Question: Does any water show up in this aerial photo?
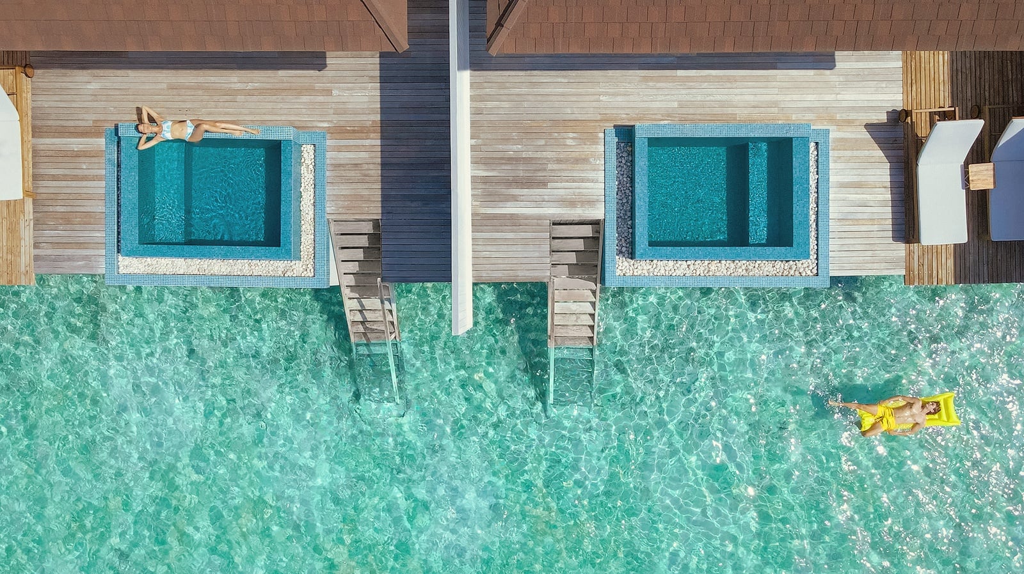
Yes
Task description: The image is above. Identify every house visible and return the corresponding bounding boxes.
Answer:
[0,0,413,58]
[481,0,1024,57]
